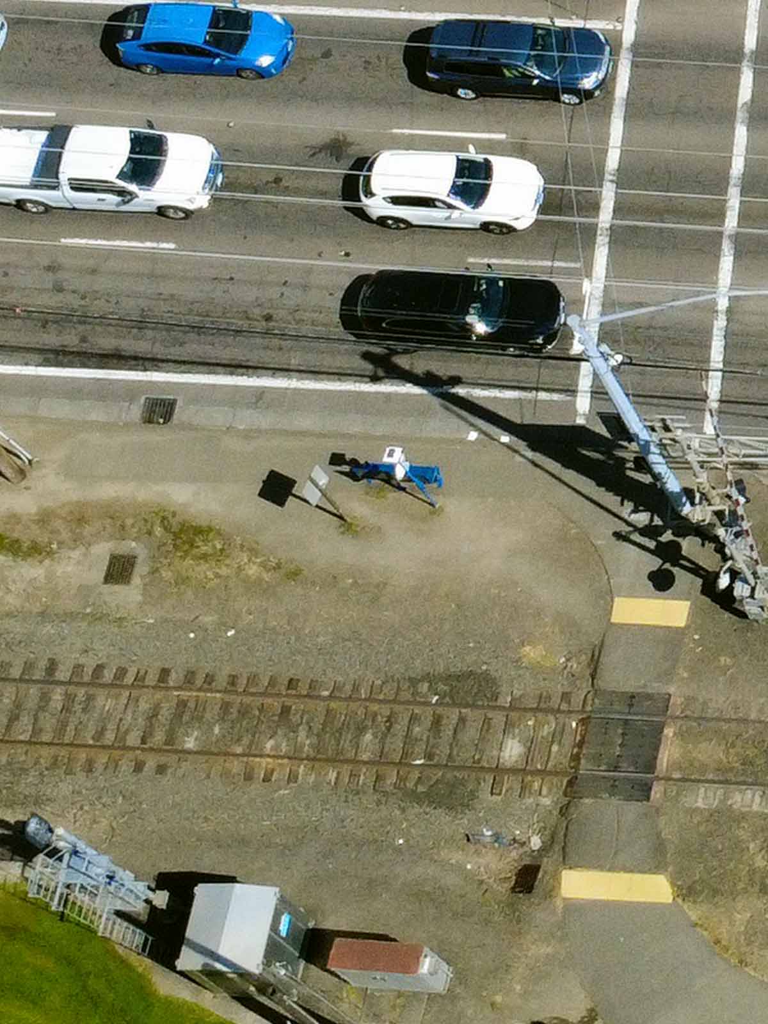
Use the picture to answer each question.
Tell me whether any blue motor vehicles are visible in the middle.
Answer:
No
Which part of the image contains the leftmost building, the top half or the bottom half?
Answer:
bottom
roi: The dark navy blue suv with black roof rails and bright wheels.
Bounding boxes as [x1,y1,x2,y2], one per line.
[420,6,614,104]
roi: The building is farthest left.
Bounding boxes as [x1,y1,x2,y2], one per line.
[175,883,323,993]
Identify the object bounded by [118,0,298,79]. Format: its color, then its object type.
blue car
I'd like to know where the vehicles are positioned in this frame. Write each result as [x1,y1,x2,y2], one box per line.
[118,0,298,79]
[420,6,614,104]
[0,120,222,218]
[349,258,567,357]
[356,139,547,232]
